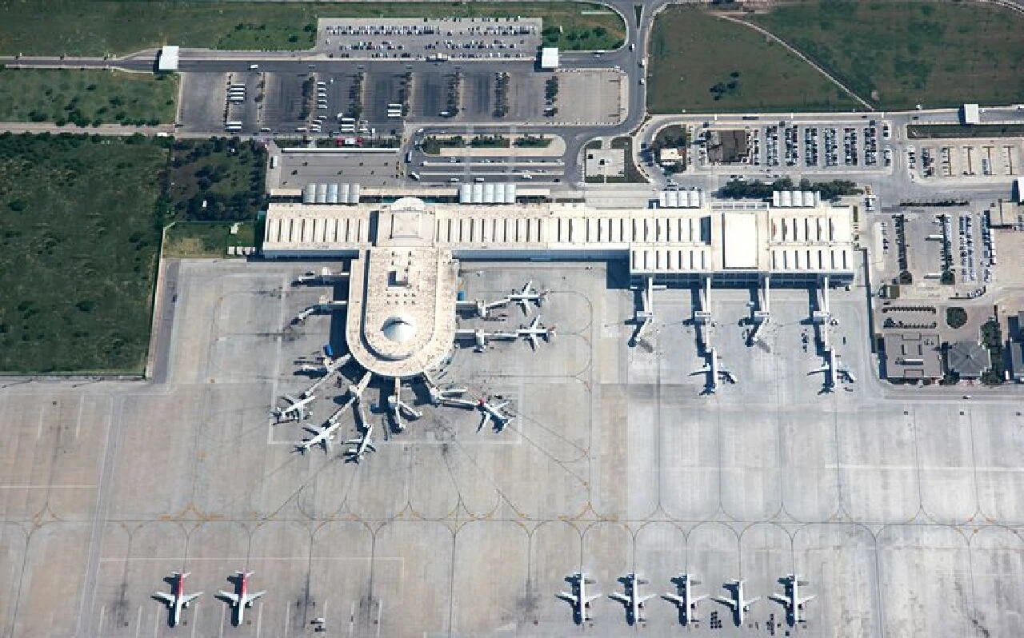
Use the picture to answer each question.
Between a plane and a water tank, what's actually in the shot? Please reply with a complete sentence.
The image shows a plane.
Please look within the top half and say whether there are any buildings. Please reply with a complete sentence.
Yes, there is a building within the top half.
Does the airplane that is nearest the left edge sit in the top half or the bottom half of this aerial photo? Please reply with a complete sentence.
Seen from above, the airplane that is nearest the left edge lies in the bottom half of the view.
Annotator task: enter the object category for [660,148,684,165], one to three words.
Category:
building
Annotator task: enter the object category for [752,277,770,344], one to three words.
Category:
jet bridge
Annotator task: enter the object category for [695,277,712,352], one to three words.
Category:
jet bridge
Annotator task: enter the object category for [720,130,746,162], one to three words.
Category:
building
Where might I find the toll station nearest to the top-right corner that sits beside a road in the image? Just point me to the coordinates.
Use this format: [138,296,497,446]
[964,104,979,124]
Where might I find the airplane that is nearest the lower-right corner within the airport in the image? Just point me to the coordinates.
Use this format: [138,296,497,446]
[770,574,819,625]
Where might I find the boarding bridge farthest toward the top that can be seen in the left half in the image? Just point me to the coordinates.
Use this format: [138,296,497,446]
[296,267,350,283]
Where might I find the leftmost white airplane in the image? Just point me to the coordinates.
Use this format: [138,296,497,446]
[155,573,204,624]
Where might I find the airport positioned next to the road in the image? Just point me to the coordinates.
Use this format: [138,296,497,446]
[0,240,1024,638]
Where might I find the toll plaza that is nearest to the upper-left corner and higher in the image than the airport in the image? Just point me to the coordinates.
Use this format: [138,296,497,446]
[159,46,180,70]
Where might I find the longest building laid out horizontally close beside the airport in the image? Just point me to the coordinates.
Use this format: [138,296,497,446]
[261,196,854,281]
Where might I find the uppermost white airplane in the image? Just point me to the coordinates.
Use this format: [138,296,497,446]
[512,280,548,315]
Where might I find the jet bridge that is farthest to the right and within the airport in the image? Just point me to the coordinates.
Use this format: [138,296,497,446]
[813,277,830,352]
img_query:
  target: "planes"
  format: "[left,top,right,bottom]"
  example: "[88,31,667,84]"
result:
[512,280,548,315]
[277,390,315,423]
[559,574,607,625]
[521,316,555,351]
[612,572,660,624]
[218,573,267,624]
[716,581,765,627]
[810,349,856,389]
[300,419,339,453]
[690,349,737,390]
[770,574,819,625]
[665,575,713,625]
[155,573,204,624]
[345,427,382,459]
[479,393,514,427]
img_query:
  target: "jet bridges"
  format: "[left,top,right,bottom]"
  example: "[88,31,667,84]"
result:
[456,328,521,348]
[813,277,830,352]
[301,355,353,396]
[387,380,423,431]
[424,372,481,407]
[752,277,770,344]
[695,277,712,352]
[635,277,654,345]
[458,296,513,319]
[295,296,348,321]
[296,267,350,283]
[328,372,374,430]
